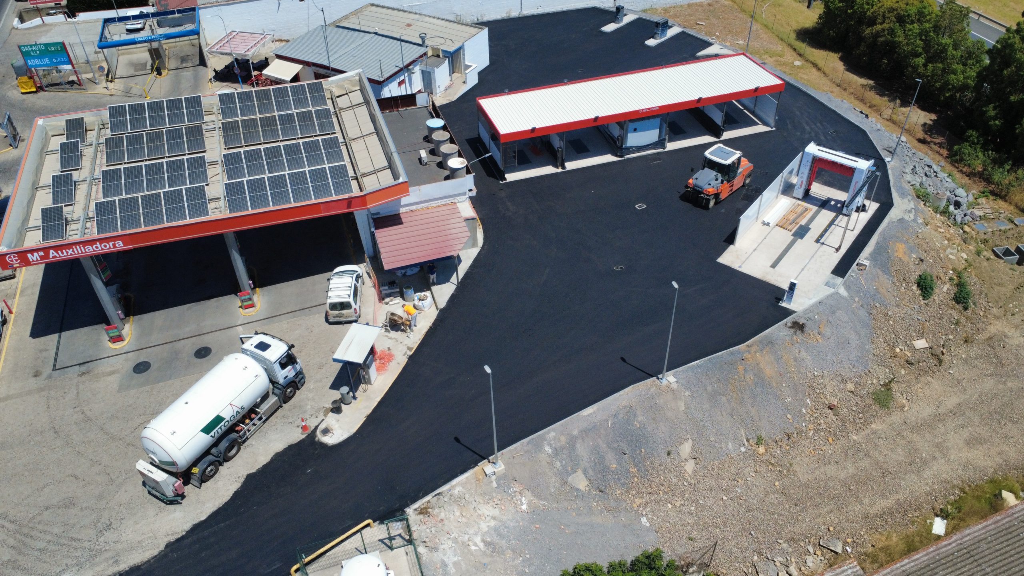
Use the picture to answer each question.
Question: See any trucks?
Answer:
Yes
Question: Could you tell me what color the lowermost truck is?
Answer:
white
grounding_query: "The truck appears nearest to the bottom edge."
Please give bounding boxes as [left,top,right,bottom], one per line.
[134,334,306,509]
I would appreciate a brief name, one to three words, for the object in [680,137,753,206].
work vehicle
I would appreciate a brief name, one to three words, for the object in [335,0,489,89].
building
